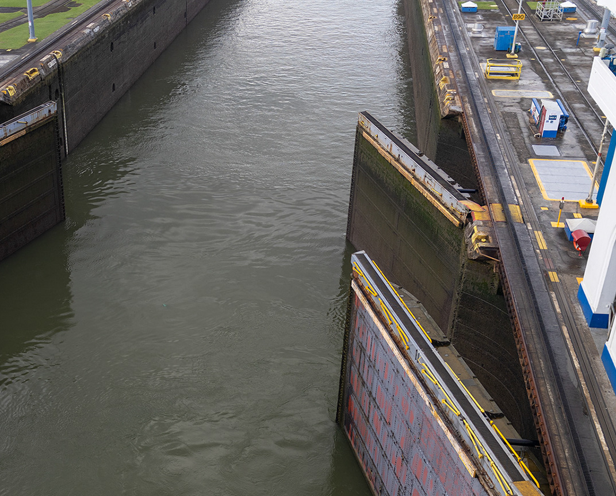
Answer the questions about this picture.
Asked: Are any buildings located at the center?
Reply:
No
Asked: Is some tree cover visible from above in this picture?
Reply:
No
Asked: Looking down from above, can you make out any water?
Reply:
Yes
